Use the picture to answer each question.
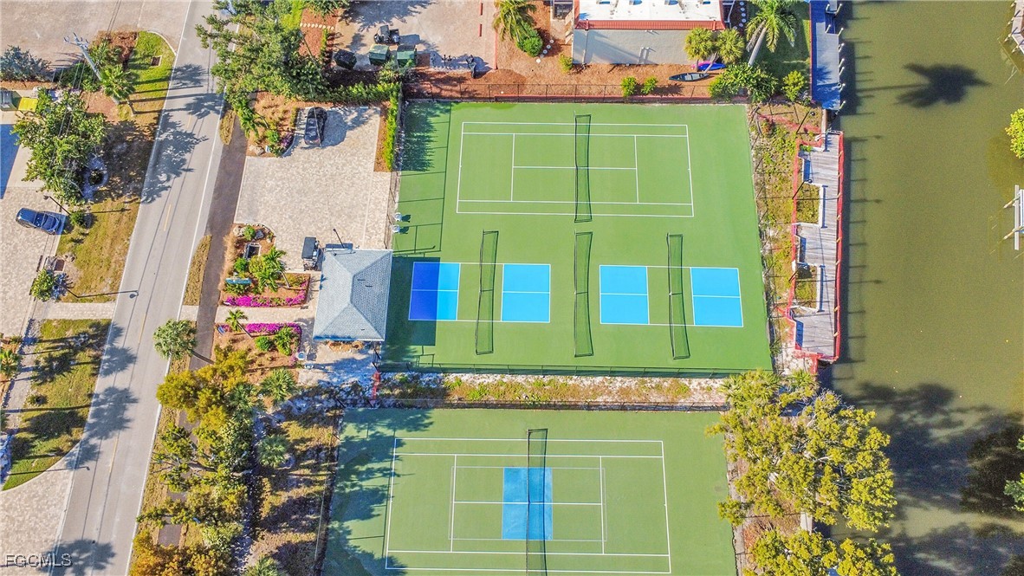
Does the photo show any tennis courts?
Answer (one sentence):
Yes, a tennis court appears in the view.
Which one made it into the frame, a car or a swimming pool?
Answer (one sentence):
This aerial view contains a car.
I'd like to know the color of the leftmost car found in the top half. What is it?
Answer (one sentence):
The leftmost car found in the top half is blue.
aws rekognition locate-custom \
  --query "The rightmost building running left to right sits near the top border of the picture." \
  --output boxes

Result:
[565,0,727,65]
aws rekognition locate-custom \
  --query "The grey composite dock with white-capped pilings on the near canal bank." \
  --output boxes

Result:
[809,0,846,118]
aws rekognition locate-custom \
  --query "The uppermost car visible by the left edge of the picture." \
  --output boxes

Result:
[11,210,61,235]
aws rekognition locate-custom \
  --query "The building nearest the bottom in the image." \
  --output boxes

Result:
[314,250,394,346]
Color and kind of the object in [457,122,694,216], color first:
green tennis court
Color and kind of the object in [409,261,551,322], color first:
blue sports court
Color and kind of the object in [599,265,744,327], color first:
blue sports court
